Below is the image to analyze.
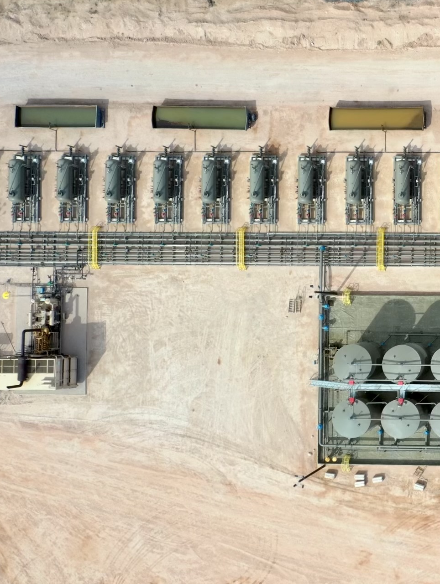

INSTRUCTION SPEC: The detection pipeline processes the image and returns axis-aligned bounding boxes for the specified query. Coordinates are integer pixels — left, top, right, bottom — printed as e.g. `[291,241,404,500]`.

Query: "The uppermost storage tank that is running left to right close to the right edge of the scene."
[328,106,427,134]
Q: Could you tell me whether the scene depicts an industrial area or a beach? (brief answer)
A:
industrial area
